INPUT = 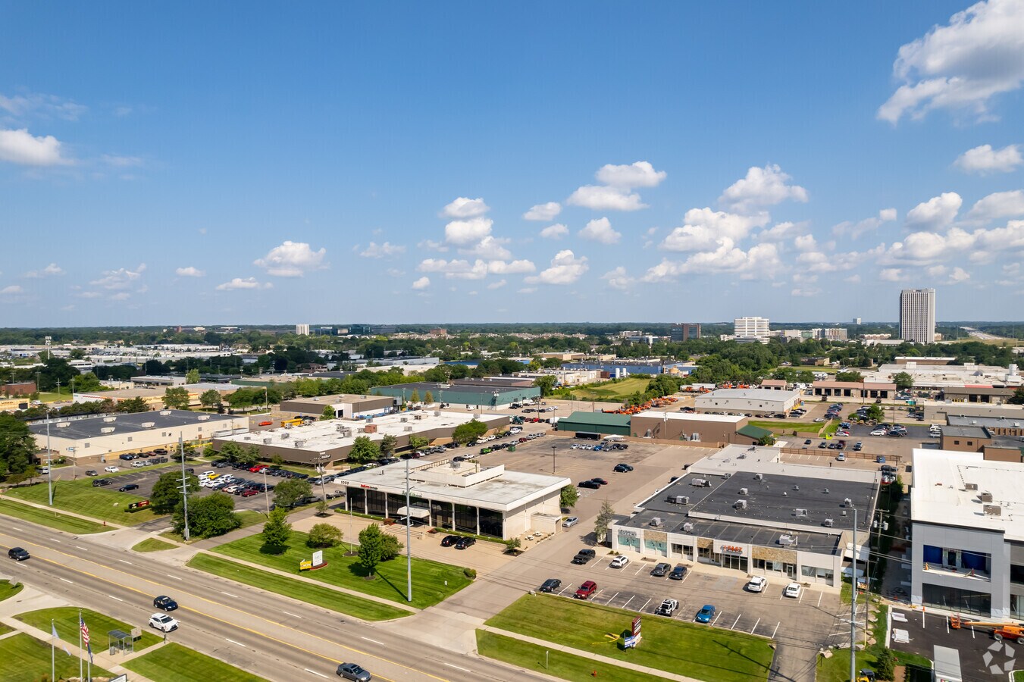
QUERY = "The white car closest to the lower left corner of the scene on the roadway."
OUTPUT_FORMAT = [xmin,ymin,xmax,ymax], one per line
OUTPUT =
[149,611,178,632]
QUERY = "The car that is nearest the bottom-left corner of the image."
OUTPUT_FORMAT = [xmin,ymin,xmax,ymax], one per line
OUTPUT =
[8,546,29,560]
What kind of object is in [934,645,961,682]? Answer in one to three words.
trailer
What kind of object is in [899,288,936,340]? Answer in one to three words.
building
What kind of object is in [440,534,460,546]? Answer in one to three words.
vehicle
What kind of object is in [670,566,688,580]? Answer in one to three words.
car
